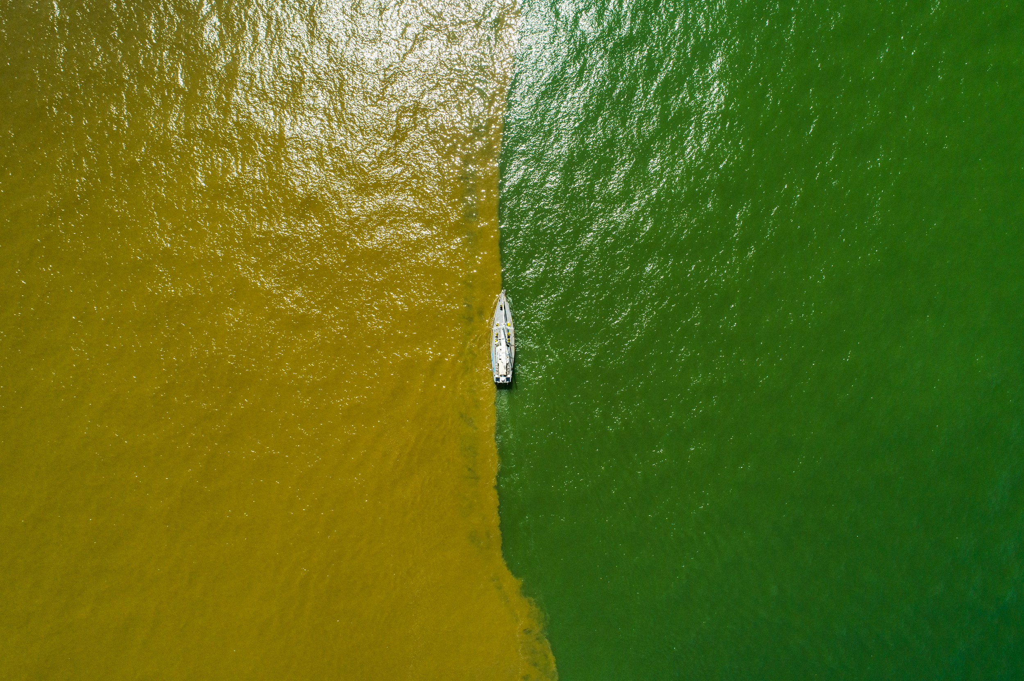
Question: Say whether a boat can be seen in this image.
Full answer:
Yes, this view includes a boat.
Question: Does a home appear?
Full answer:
No, I can't see a single home in this photo.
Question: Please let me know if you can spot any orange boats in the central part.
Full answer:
No, in the central part there is no orange boat.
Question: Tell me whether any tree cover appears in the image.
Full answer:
No, the scene doesn't show any tree cover.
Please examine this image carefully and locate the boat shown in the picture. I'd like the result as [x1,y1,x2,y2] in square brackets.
[490,289,515,385]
